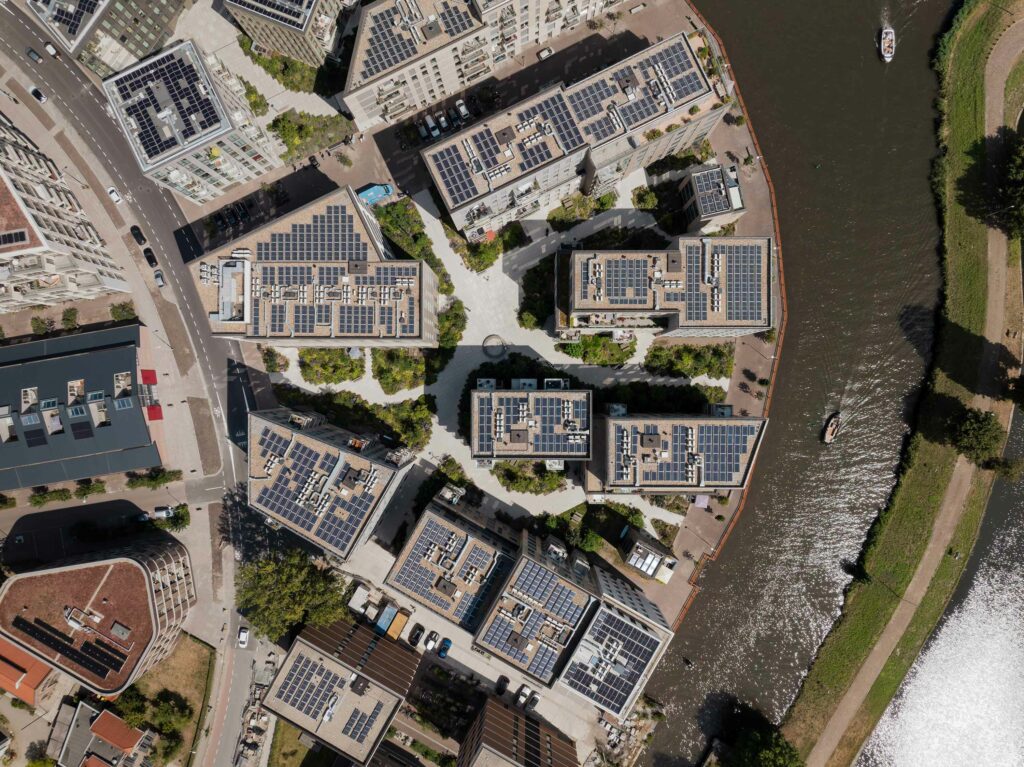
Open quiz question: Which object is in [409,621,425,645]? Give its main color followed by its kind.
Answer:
black car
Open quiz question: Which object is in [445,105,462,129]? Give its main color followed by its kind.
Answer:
black car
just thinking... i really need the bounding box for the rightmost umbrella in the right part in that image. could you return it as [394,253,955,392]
[697,496,710,509]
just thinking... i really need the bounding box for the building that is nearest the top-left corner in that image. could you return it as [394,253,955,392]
[26,0,172,80]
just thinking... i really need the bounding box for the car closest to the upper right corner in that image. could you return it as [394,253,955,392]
[533,46,556,63]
